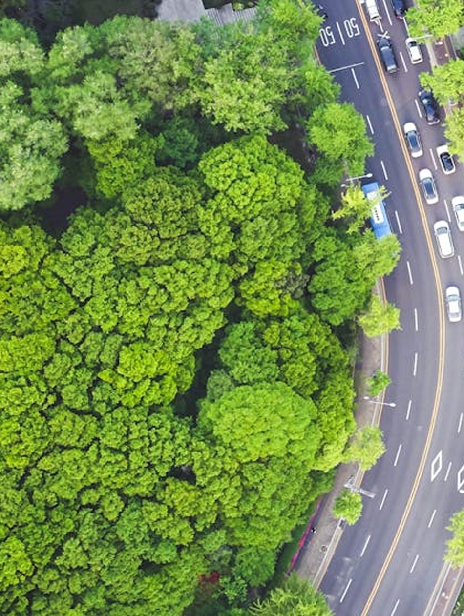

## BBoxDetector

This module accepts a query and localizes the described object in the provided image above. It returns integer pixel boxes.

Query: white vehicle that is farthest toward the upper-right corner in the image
[405,36,424,68]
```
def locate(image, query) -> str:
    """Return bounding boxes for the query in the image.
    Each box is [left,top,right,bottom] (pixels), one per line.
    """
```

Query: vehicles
[444,284,463,322]
[361,0,383,25]
[418,89,441,127]
[402,121,424,159]
[390,0,409,22]
[436,141,457,178]
[376,37,397,75]
[434,220,455,259]
[451,195,464,233]
[419,168,439,206]
[405,36,424,68]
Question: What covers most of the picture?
trees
